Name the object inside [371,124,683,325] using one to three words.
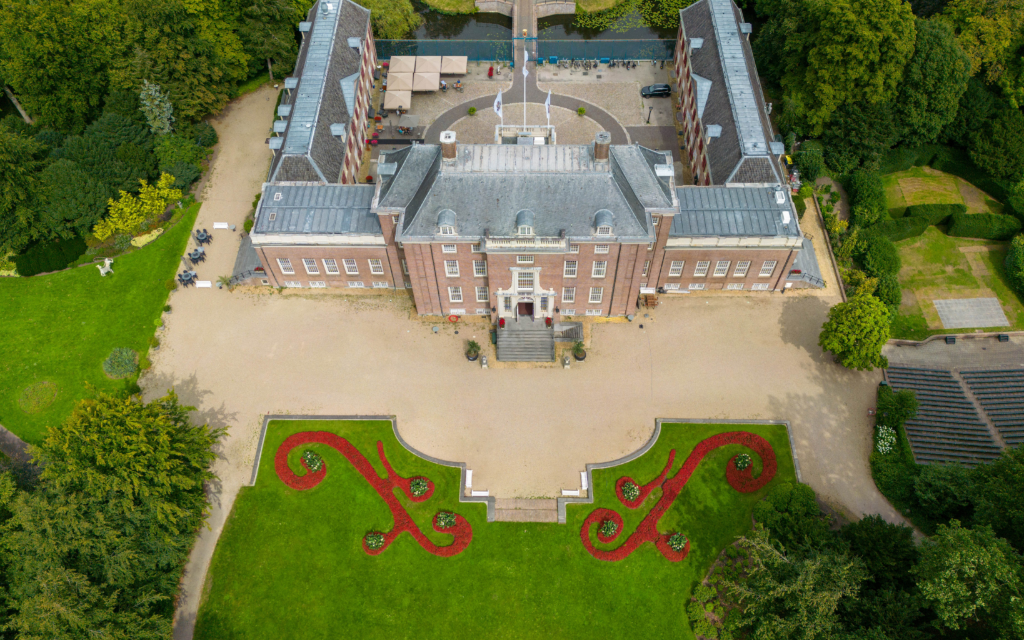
building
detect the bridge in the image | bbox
[512,0,537,63]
